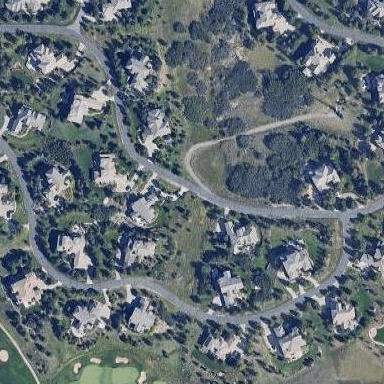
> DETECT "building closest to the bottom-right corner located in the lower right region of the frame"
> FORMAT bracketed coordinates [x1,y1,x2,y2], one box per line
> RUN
[331,302,360,332]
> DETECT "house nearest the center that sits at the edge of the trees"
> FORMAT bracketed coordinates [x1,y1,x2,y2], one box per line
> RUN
[127,189,162,223]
